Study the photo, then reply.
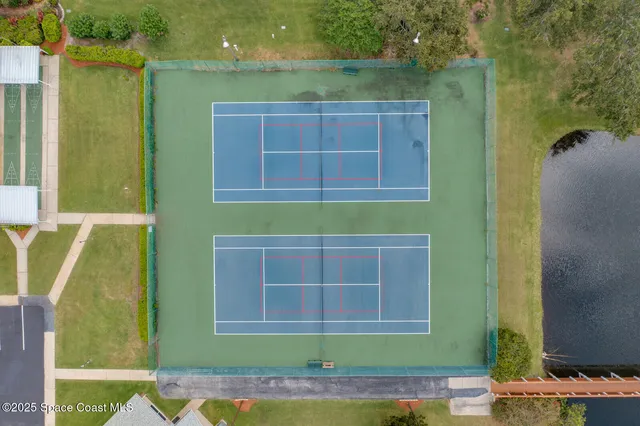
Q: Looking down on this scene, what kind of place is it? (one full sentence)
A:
What you see here is a sports ground.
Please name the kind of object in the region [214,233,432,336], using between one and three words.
tennis court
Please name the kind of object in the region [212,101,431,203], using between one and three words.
tennis court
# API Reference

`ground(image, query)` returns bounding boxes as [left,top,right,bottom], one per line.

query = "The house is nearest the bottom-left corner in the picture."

[103,392,174,426]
